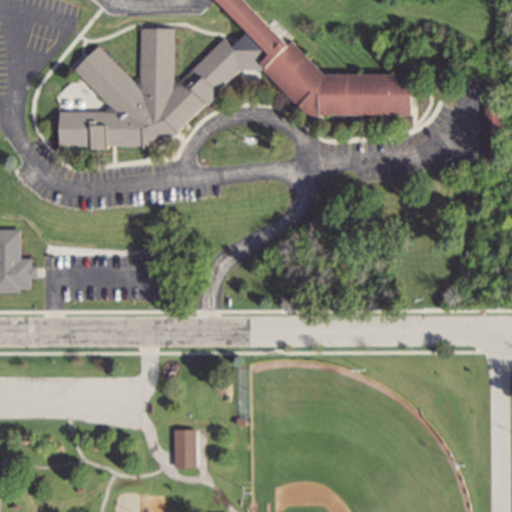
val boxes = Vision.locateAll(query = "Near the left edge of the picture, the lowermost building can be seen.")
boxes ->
[0,230,36,294]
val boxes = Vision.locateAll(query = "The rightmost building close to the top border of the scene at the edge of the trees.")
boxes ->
[212,0,410,118]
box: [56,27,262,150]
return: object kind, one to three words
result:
building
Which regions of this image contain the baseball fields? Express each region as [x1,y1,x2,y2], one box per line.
[250,358,474,512]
